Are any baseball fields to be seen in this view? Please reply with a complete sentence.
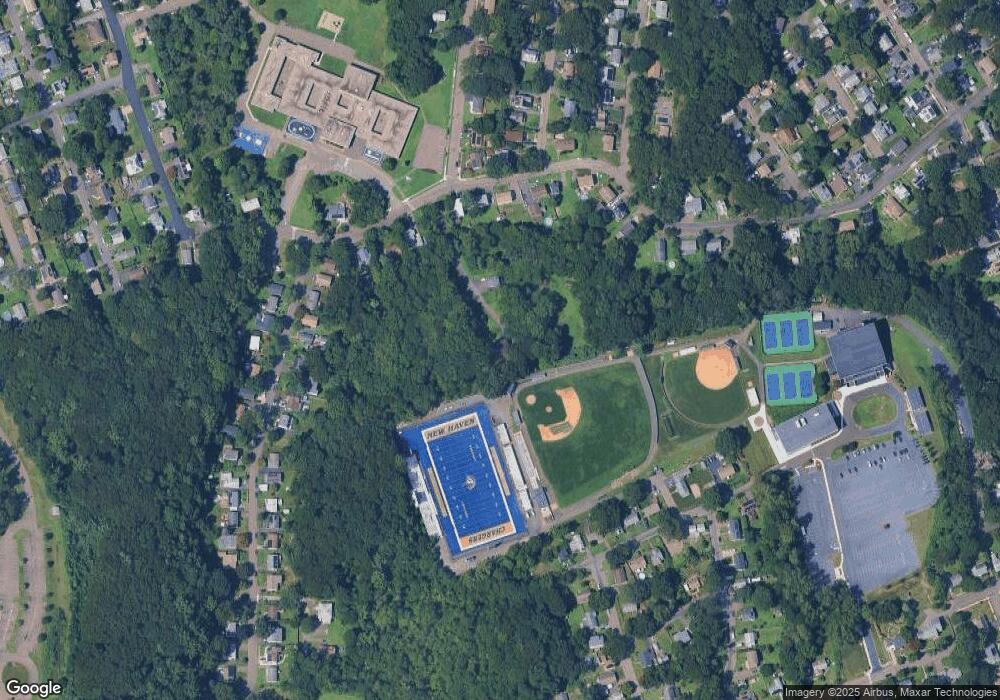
Yes, a baseball field is visible in the scene.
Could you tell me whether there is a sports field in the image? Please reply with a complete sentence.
Yes, this view includes a sports field.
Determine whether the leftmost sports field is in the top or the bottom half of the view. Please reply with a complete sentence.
The leftmost sports field is in the bottom half of the image.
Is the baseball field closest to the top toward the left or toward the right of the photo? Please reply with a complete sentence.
It is on the right.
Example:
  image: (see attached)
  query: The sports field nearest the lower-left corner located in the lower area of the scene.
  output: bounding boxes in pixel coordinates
[402,403,529,558]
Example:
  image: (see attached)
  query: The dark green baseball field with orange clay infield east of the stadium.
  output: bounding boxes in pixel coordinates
[521,361,650,508]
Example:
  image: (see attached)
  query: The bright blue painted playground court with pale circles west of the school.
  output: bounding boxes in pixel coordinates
[231,125,270,155]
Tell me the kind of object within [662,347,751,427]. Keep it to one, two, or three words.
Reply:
baseball field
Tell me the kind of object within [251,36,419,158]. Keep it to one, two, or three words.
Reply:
building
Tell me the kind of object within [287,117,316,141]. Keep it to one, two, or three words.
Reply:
sports court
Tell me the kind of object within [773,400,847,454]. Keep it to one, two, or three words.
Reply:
building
